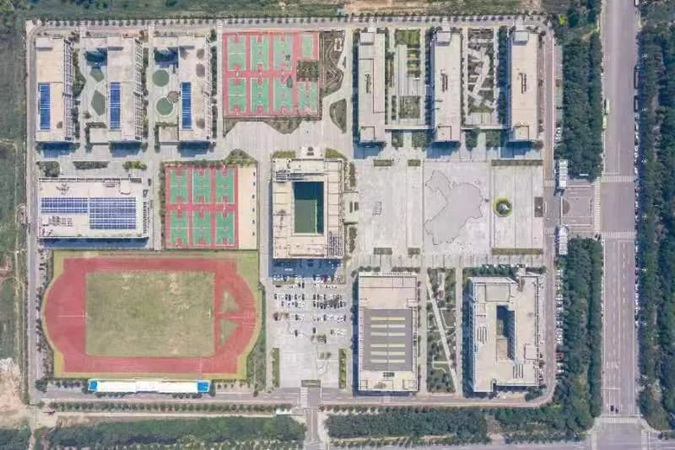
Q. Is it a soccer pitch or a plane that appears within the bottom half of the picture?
soccer pitch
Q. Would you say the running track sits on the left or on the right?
left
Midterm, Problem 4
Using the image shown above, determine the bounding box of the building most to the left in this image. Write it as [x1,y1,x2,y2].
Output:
[35,37,76,144]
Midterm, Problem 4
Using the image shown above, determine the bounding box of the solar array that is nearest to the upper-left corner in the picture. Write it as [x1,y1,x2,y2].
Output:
[38,83,50,128]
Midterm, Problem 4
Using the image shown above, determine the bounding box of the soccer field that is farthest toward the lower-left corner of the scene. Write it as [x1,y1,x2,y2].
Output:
[86,270,214,358]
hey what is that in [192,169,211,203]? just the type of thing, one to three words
basketball court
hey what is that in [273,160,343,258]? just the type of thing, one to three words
building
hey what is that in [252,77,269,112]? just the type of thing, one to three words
basketball court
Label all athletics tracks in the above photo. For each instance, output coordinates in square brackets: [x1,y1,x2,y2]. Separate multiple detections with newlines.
[40,252,261,379]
